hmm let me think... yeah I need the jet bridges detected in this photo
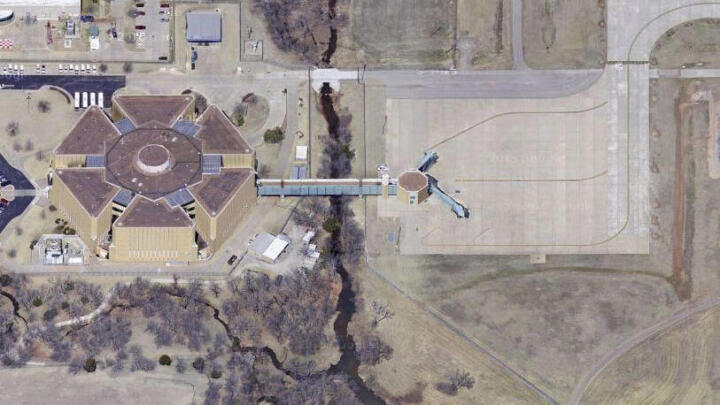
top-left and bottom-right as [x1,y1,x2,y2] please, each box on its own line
[415,153,438,174]
[428,179,468,220]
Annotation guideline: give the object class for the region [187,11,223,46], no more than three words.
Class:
building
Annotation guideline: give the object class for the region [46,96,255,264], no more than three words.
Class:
building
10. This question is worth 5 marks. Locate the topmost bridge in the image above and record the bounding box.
[311,68,358,94]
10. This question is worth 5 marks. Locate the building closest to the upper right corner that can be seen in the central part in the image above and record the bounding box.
[398,170,428,205]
